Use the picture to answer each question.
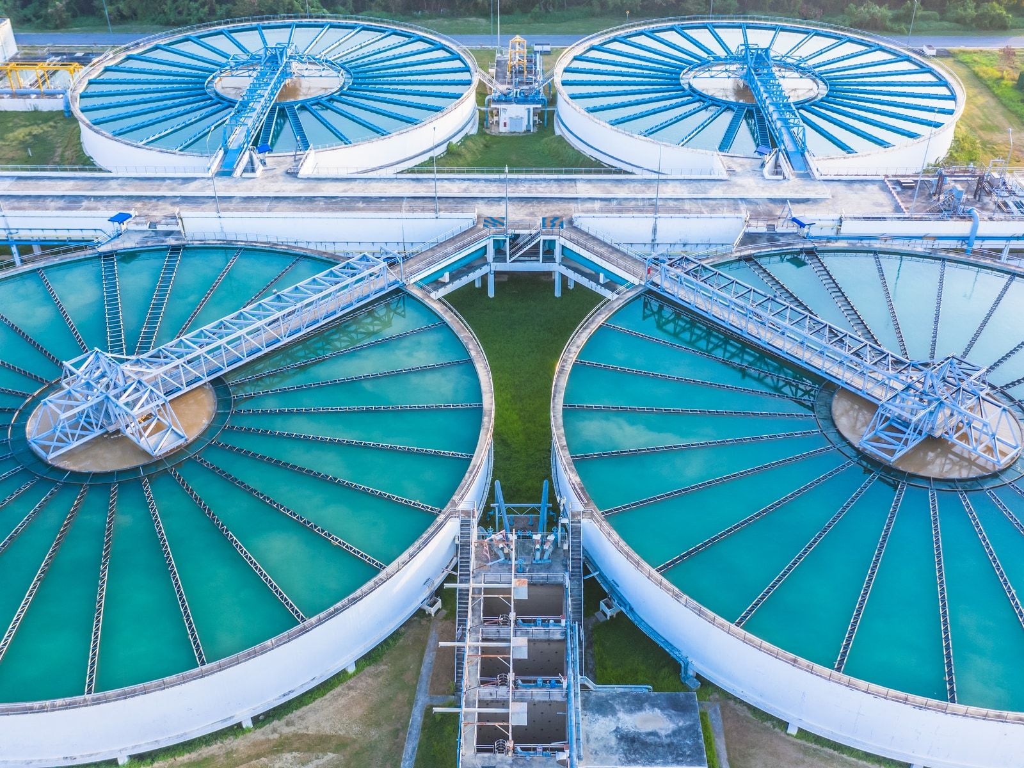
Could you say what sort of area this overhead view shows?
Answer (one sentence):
This looks like an industrial area.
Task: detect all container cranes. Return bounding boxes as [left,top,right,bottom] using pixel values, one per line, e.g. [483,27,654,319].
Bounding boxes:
[0,58,87,88]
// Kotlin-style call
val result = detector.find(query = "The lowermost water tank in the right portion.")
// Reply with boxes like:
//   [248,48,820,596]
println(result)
[548,235,1024,768]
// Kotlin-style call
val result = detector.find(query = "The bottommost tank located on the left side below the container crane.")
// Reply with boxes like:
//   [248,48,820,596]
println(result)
[0,228,496,768]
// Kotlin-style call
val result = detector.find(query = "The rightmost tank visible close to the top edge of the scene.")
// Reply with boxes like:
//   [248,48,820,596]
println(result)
[553,15,969,180]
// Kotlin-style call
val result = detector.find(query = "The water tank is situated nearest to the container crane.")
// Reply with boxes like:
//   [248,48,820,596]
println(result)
[71,11,483,173]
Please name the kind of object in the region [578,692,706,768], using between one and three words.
building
